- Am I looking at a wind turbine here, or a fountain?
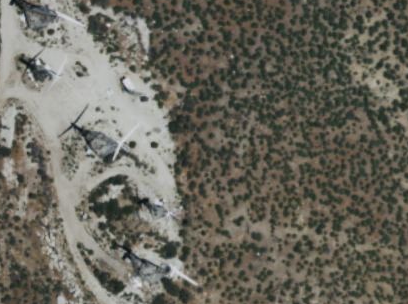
wind turbine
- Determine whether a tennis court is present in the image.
No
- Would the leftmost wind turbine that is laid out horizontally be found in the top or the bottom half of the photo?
top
